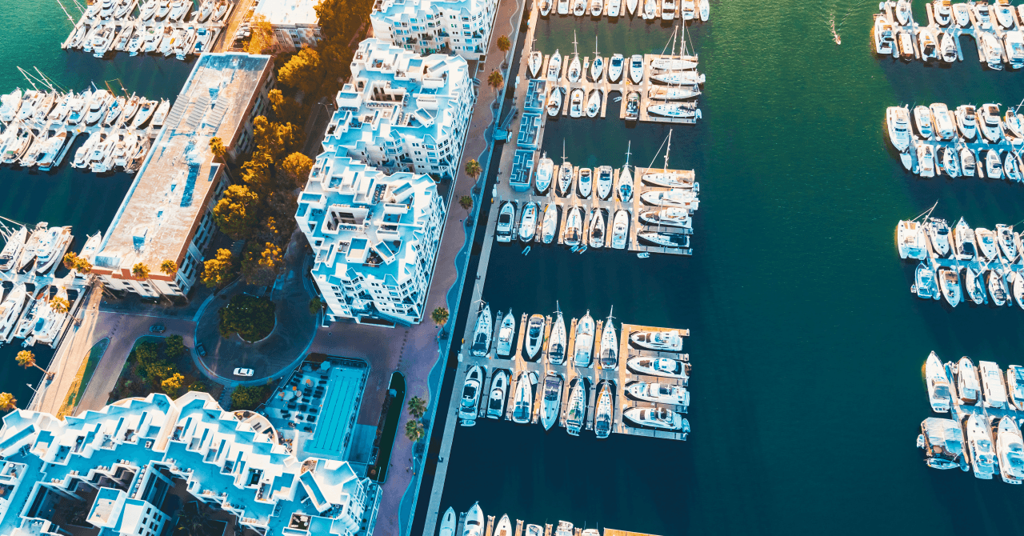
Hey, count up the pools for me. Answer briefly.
1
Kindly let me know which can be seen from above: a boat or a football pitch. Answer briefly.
boat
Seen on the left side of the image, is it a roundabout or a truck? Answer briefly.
roundabout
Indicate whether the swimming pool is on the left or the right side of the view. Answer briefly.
left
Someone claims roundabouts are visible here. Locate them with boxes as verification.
[186,276,321,389]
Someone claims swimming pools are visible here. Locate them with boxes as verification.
[259,351,370,461]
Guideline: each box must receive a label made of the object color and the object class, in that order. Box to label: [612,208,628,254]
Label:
white boat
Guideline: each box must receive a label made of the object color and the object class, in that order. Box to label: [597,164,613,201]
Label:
white boat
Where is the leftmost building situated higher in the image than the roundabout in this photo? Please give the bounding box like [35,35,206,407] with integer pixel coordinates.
[81,47,279,296]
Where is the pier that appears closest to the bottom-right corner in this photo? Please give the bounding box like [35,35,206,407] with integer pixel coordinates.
[942,356,1024,472]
